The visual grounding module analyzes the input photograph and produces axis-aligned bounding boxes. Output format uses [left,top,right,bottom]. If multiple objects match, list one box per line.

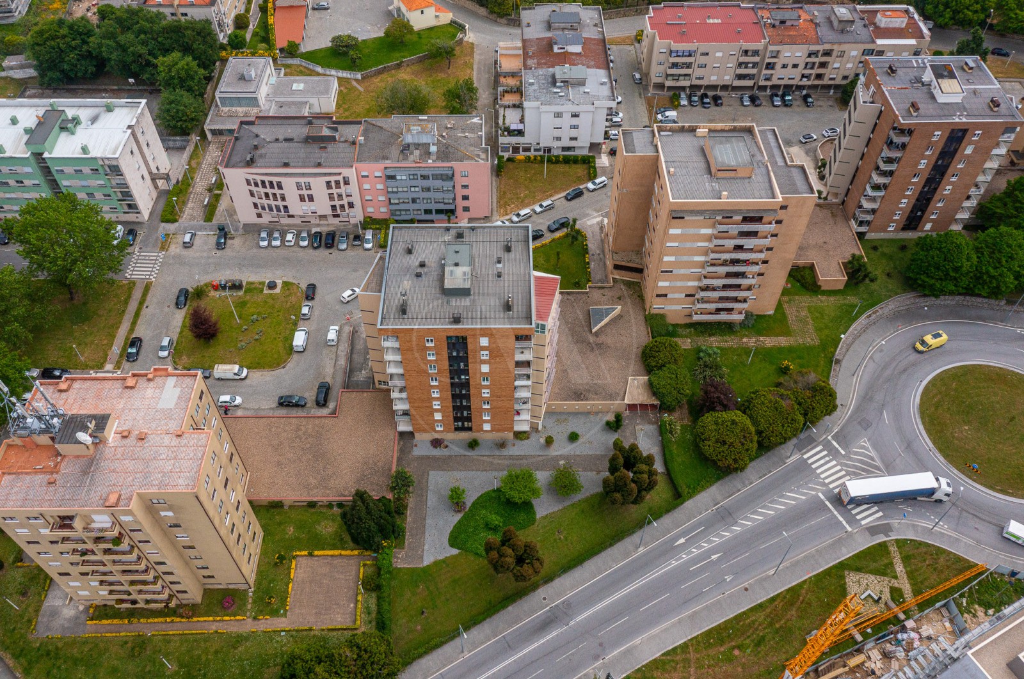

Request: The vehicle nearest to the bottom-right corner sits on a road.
[1001,517,1024,552]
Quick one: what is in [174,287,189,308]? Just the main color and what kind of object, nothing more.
black car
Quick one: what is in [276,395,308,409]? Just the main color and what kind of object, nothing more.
black car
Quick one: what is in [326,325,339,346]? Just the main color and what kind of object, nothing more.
white vehicle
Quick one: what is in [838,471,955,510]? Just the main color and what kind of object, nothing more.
white truck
